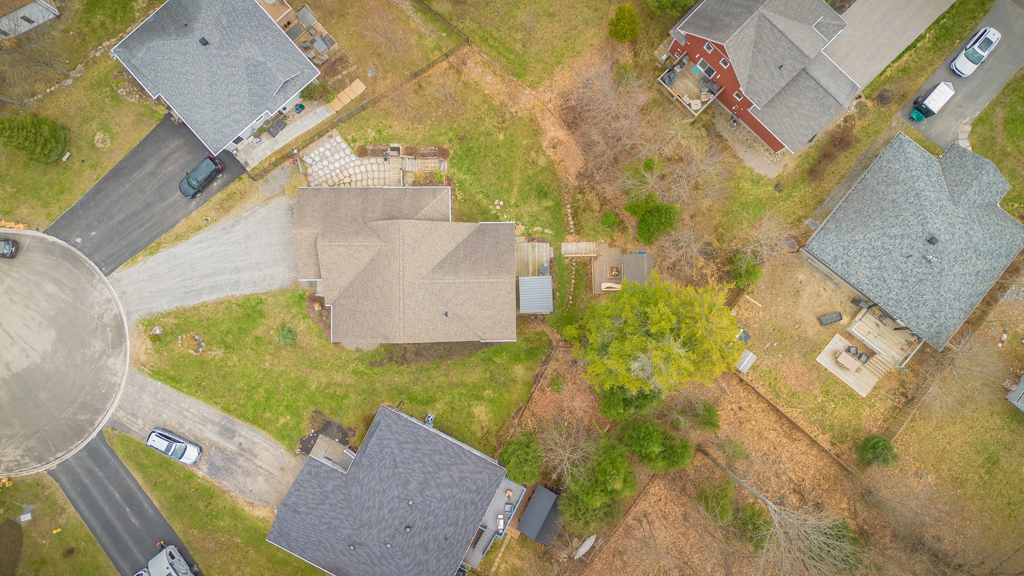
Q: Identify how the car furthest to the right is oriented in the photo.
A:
at an angle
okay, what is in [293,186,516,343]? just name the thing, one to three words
house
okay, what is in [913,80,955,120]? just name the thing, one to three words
trailer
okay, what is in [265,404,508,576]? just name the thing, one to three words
house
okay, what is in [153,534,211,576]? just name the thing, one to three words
vehicle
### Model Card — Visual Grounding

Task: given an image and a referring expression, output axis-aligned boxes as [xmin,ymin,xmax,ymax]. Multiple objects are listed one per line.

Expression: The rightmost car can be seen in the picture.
[948,23,1005,81]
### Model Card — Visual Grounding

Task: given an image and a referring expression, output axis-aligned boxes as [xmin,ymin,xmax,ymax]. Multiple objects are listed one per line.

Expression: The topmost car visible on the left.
[178,152,230,202]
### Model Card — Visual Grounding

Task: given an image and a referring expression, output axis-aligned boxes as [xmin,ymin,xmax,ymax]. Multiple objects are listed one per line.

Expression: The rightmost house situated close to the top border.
[667,0,861,154]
